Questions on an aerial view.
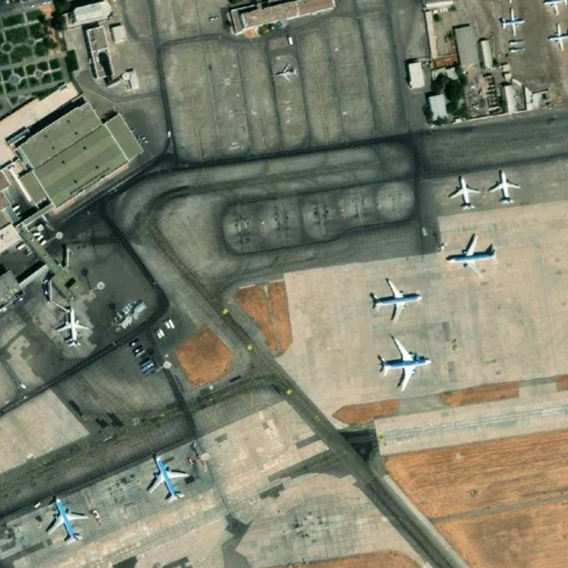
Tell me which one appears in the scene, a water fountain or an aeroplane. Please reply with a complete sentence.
Visible in the photo is an aeroplane.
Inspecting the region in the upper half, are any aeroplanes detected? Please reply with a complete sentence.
Yes, an aeroplane shows up in the upper half.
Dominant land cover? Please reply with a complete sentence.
Most of the picture is covered by paved ground.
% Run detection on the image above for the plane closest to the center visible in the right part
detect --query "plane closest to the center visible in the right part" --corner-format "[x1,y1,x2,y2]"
[372,279,421,322]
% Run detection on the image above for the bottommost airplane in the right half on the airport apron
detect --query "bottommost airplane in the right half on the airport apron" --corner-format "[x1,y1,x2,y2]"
[380,338,432,390]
